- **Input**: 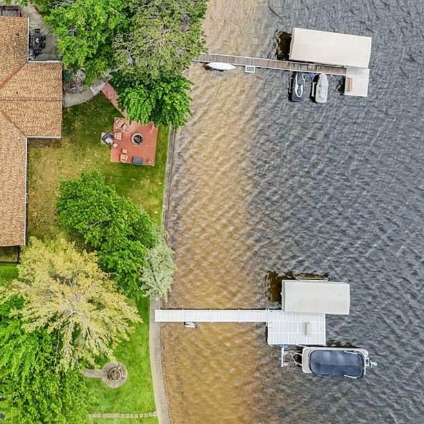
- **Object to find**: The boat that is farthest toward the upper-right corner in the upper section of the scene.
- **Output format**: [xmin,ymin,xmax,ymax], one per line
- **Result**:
[310,73,326,103]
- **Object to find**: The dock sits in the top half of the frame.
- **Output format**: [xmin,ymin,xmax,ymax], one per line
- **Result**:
[199,53,371,97]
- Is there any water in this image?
Yes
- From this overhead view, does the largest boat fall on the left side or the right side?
right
